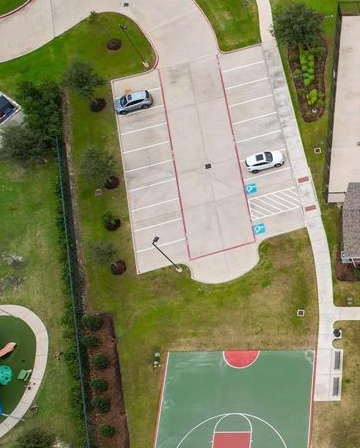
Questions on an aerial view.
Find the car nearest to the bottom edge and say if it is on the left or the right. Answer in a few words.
right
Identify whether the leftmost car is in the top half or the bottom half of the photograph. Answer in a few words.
top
